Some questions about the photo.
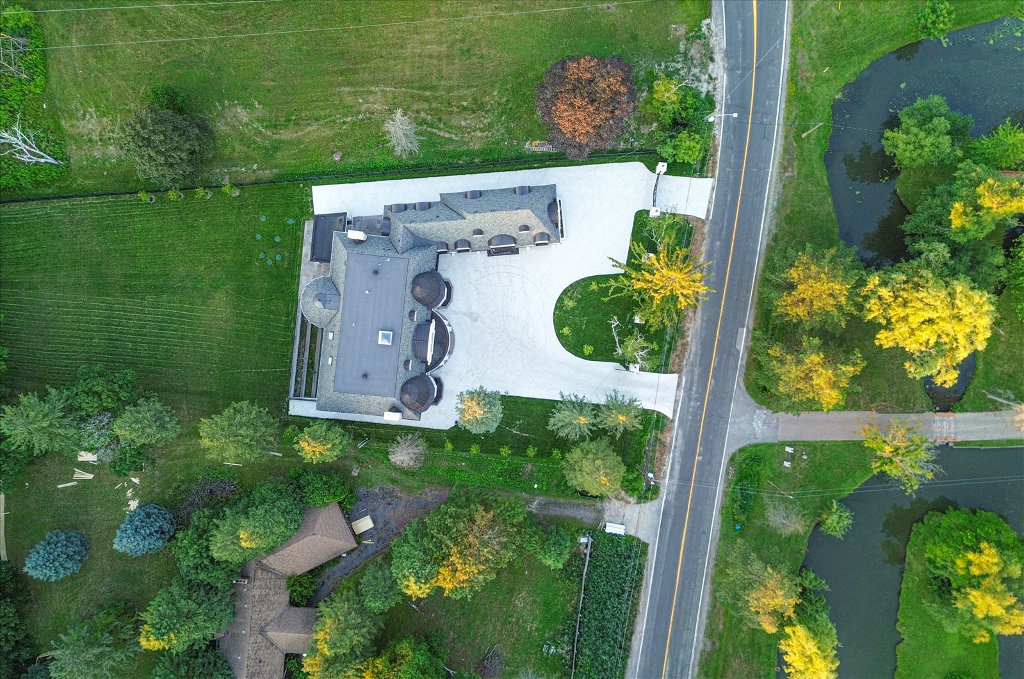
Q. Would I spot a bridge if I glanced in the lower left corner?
No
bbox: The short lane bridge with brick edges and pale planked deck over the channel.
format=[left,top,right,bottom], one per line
[933,413,957,446]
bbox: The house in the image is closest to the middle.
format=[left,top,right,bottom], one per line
[300,184,567,420]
